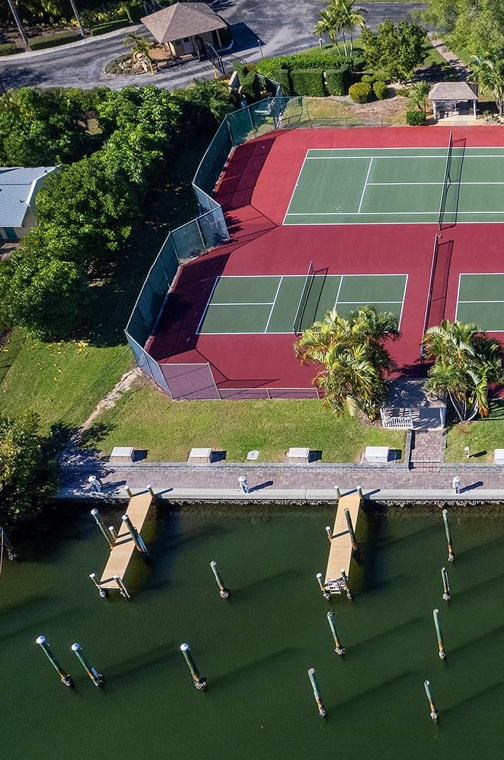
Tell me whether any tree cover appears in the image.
Yes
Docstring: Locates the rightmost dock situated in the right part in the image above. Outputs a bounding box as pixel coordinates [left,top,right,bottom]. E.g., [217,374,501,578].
[318,485,370,606]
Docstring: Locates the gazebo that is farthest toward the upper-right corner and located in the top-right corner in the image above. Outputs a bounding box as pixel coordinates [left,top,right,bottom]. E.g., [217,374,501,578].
[429,80,479,120]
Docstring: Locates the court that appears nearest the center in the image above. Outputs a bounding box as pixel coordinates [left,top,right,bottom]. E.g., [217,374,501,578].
[197,275,408,333]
